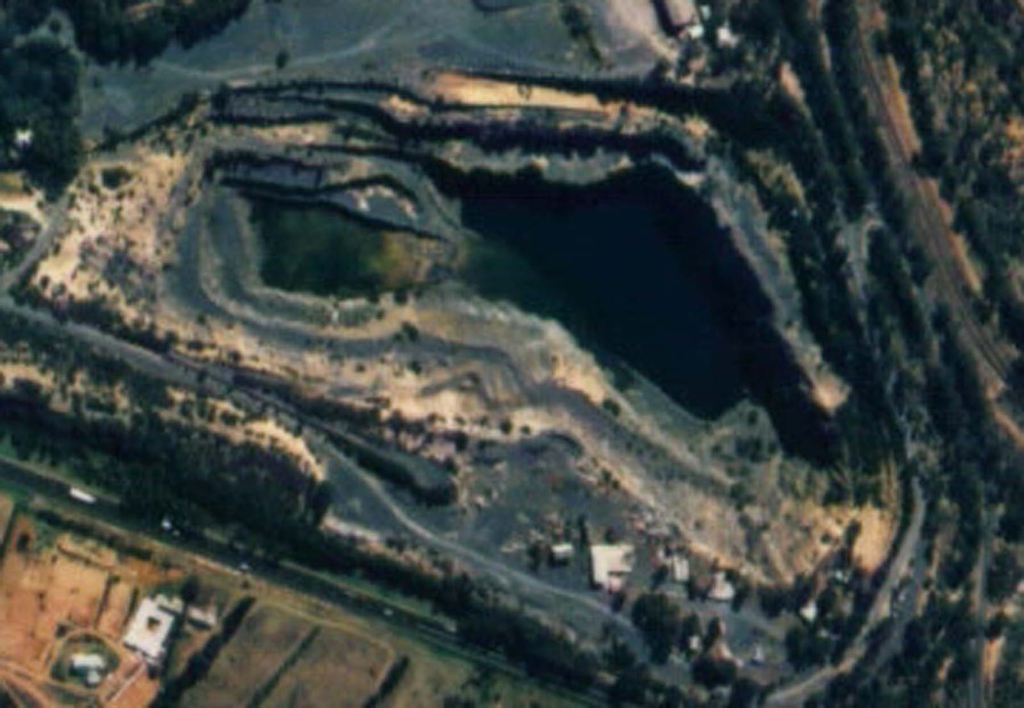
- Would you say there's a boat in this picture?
No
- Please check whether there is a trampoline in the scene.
No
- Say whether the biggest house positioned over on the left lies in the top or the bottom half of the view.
bottom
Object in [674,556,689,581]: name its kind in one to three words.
shed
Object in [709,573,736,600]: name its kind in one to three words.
house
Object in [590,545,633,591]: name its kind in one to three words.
building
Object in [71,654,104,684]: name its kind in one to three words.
house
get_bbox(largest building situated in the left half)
[124,595,181,667]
